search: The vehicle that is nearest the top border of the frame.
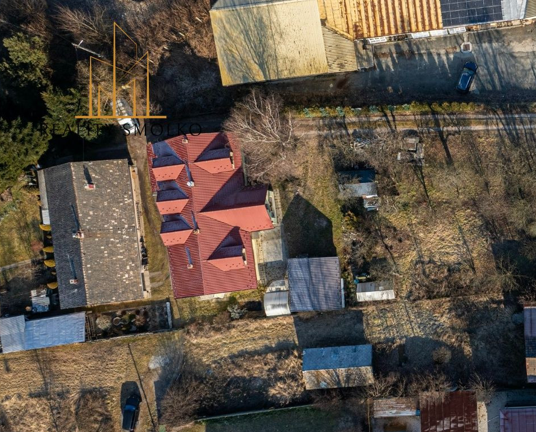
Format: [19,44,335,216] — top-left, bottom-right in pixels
[455,61,479,96]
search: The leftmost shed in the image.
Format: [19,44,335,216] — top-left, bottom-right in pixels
[0,312,94,352]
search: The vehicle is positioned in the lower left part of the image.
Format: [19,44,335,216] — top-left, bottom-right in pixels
[121,394,144,430]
